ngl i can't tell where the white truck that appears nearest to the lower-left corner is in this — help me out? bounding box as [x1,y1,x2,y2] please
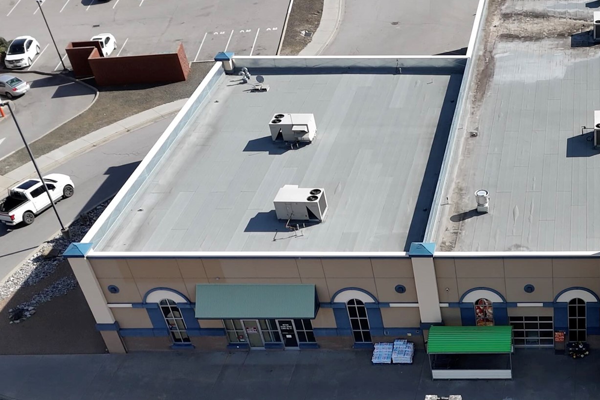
[0,175,69,227]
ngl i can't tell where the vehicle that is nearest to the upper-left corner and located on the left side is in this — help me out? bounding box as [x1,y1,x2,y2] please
[7,35,41,63]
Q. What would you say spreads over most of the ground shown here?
buildings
